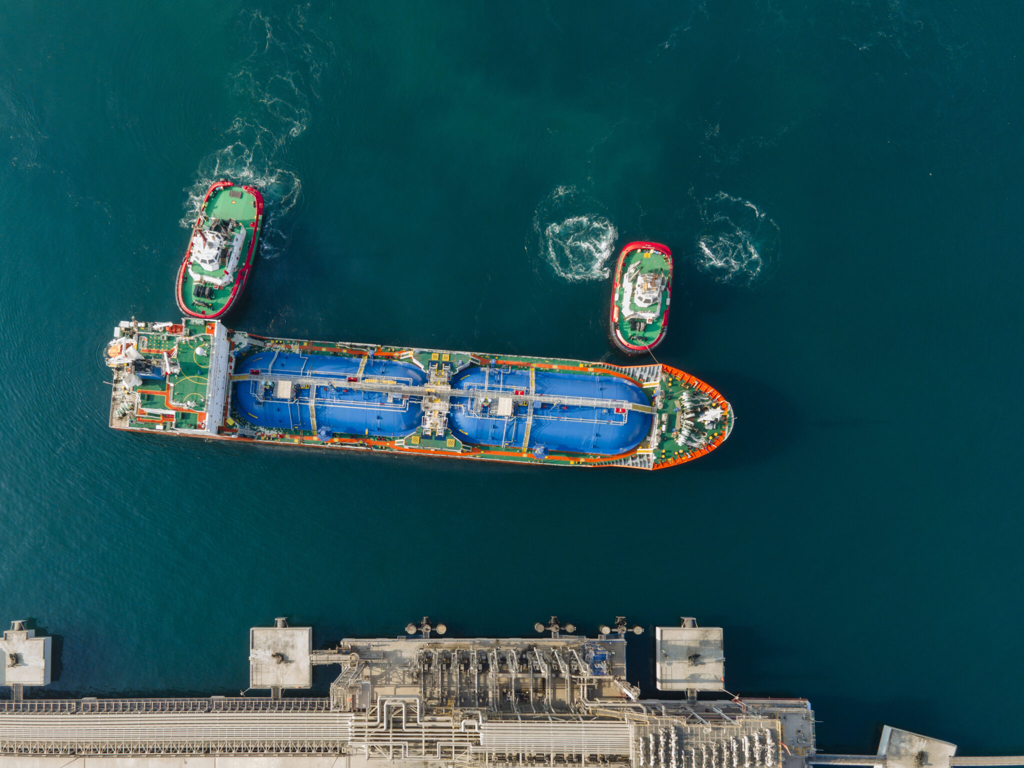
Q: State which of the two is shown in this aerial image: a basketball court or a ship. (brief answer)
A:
ship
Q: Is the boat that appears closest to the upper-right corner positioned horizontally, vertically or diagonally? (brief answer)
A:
vertically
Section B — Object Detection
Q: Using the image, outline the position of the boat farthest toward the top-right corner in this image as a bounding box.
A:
[608,241,673,357]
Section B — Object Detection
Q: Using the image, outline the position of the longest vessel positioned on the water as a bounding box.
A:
[103,316,738,472]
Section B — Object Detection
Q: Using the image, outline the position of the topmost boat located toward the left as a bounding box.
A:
[173,178,263,322]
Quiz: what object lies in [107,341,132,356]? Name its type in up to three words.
boat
